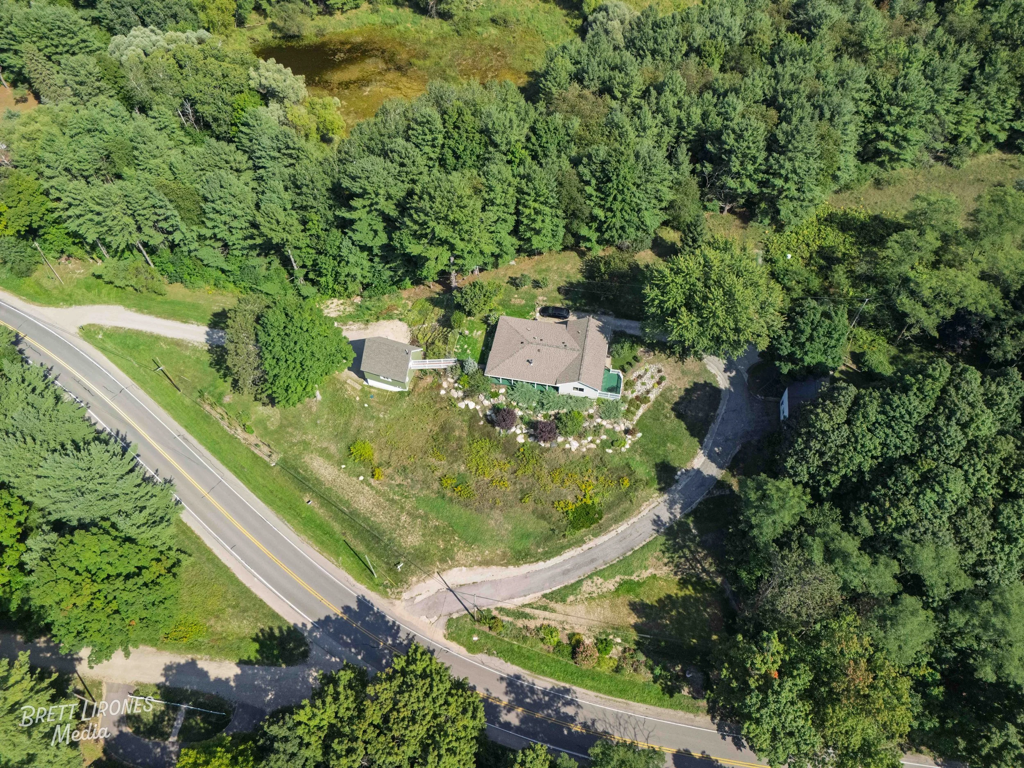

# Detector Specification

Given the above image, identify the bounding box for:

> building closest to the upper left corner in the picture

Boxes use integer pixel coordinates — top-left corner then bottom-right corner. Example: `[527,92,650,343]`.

[360,336,424,390]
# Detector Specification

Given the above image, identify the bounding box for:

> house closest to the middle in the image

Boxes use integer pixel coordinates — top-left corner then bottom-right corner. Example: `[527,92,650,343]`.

[484,316,623,400]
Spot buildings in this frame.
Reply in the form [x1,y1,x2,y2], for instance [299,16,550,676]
[780,386,843,446]
[484,316,623,400]
[360,336,424,390]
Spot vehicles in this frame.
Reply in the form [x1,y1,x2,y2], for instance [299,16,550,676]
[540,306,569,320]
